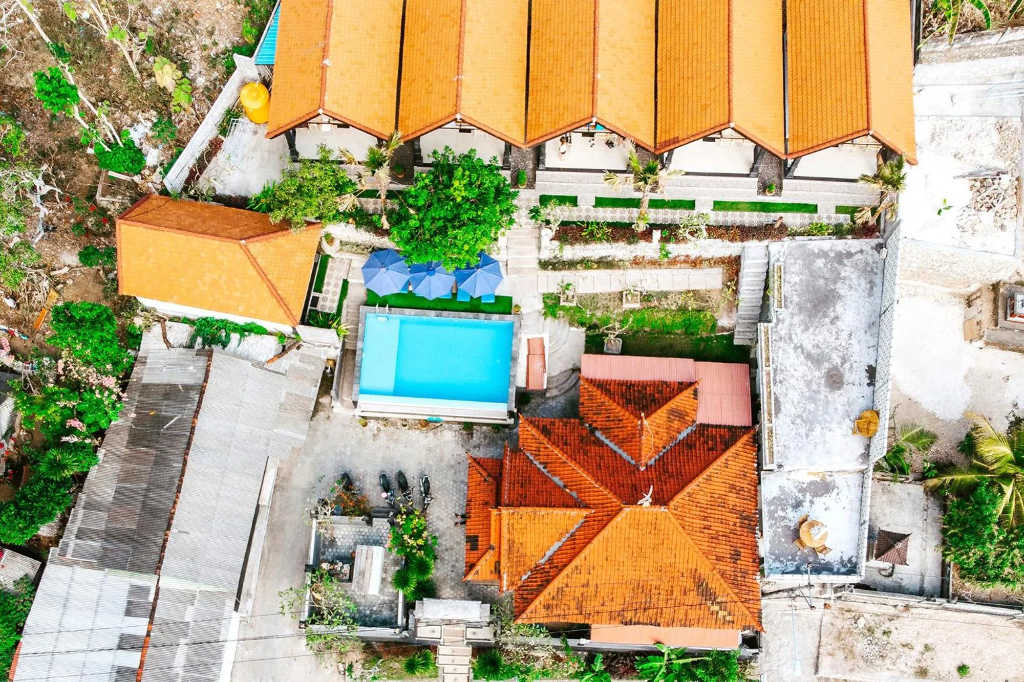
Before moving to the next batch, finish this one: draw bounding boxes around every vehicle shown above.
[396,468,412,508]
[339,471,353,500]
[378,471,395,509]
[415,472,432,512]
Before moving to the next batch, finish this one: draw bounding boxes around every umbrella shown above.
[410,256,457,299]
[455,251,503,295]
[362,249,410,296]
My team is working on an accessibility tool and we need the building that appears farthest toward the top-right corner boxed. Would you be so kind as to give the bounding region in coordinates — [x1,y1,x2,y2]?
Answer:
[783,0,919,188]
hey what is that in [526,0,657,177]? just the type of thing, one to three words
house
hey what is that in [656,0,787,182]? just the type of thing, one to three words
house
